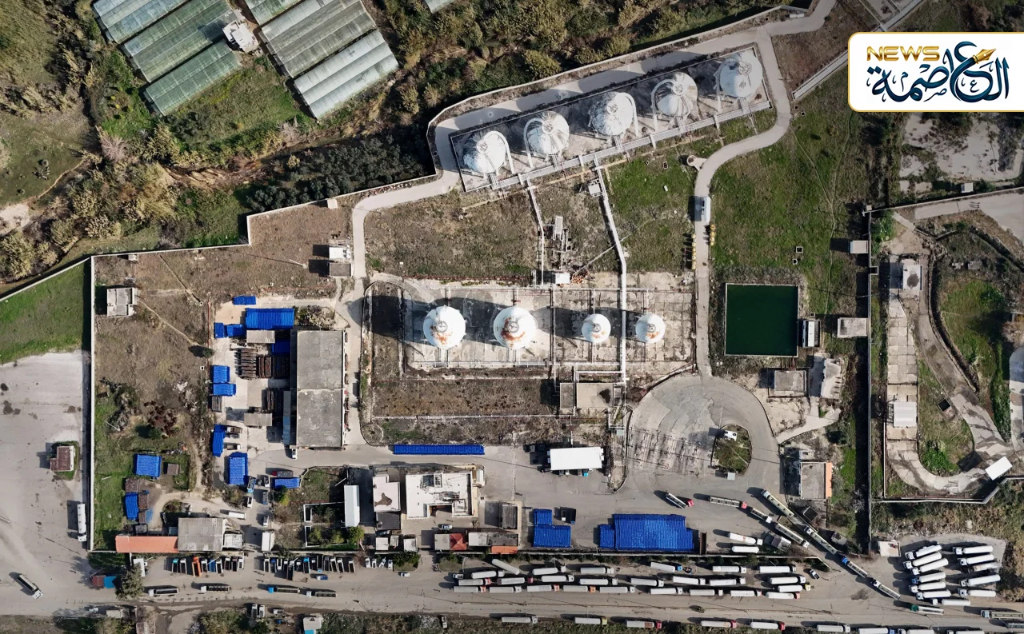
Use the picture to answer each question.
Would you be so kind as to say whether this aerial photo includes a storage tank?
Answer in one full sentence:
Yes, a storage tank is visible in the scene.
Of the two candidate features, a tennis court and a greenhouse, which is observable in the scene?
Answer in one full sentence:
It is a greenhouse that can be seen here.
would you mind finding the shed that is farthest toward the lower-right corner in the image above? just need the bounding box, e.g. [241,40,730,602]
[875,539,900,557]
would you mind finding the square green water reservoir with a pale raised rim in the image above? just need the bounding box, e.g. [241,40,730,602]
[724,285,798,370]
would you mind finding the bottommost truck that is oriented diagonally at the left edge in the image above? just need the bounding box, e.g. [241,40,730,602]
[18,573,45,598]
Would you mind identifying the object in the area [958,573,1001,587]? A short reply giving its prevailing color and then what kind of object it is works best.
white vehicle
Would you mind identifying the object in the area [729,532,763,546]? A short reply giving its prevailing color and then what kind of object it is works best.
white vehicle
